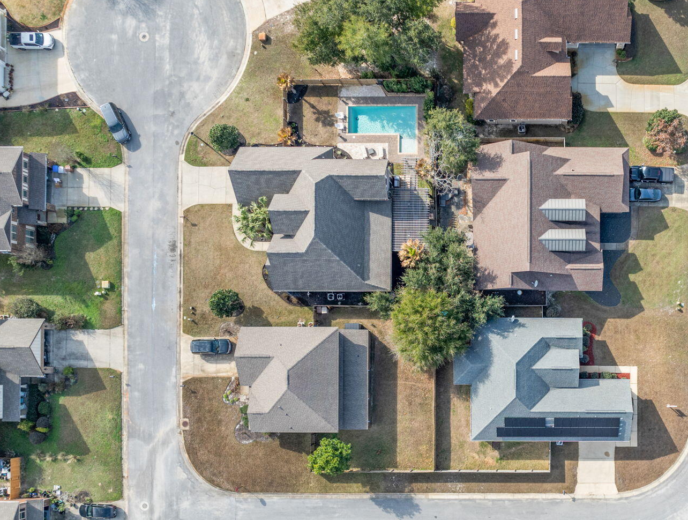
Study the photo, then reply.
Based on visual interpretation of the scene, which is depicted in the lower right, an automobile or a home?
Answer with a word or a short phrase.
home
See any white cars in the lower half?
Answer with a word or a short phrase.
No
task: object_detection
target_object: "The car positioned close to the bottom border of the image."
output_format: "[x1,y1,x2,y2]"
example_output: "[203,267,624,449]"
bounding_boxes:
[80,502,121,520]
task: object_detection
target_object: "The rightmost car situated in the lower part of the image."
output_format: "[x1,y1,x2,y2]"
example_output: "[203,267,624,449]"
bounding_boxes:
[190,338,234,356]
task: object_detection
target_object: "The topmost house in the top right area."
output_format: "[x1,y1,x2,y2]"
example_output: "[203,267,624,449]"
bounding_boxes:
[455,0,631,124]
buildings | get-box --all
[234,326,369,433]
[0,4,8,91]
[470,139,629,292]
[0,496,54,520]
[455,0,631,124]
[453,317,633,442]
[227,146,395,292]
[0,318,58,422]
[0,146,56,254]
